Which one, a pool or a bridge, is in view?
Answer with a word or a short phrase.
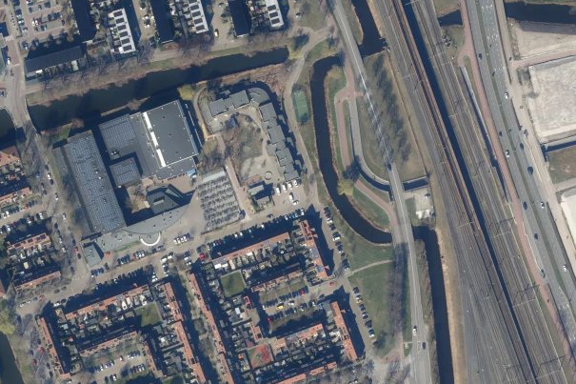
bridge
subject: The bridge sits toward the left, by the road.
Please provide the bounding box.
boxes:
[7,93,40,151]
